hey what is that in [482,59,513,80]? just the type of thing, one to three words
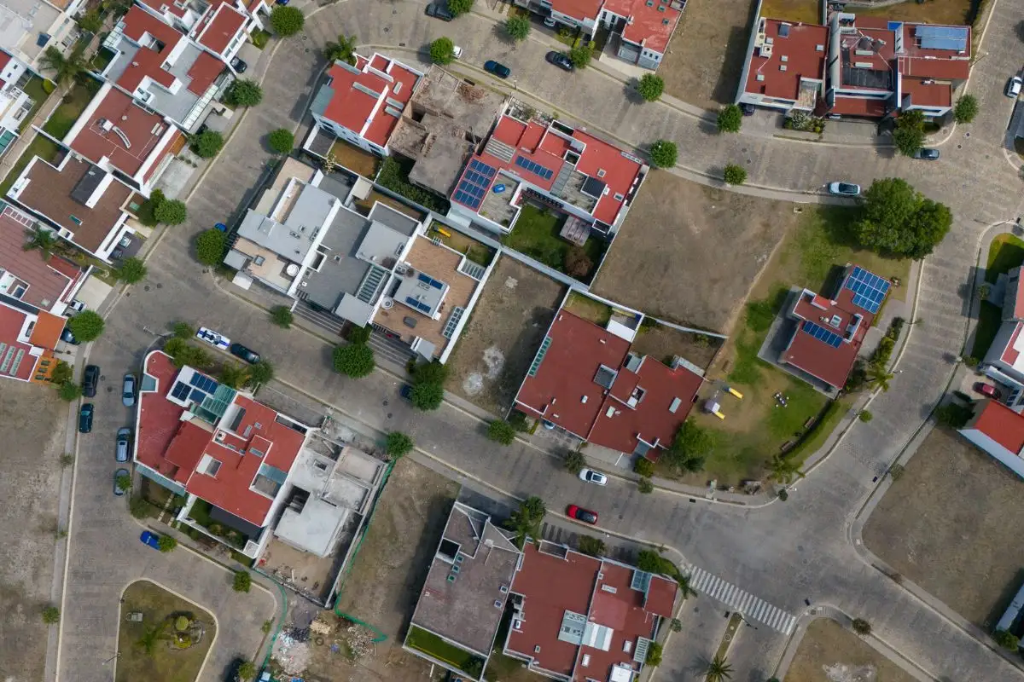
car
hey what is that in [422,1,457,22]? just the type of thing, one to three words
vehicle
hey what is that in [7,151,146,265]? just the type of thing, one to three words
house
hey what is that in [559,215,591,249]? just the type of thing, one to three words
building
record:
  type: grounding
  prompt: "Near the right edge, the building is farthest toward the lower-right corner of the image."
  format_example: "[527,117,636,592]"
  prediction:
[996,587,1024,651]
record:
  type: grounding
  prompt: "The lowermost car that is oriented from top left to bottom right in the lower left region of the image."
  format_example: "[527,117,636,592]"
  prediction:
[137,529,167,551]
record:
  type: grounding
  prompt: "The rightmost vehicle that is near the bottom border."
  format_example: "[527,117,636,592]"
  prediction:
[222,652,245,682]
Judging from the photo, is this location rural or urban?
urban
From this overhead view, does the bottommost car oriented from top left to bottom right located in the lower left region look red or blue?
blue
